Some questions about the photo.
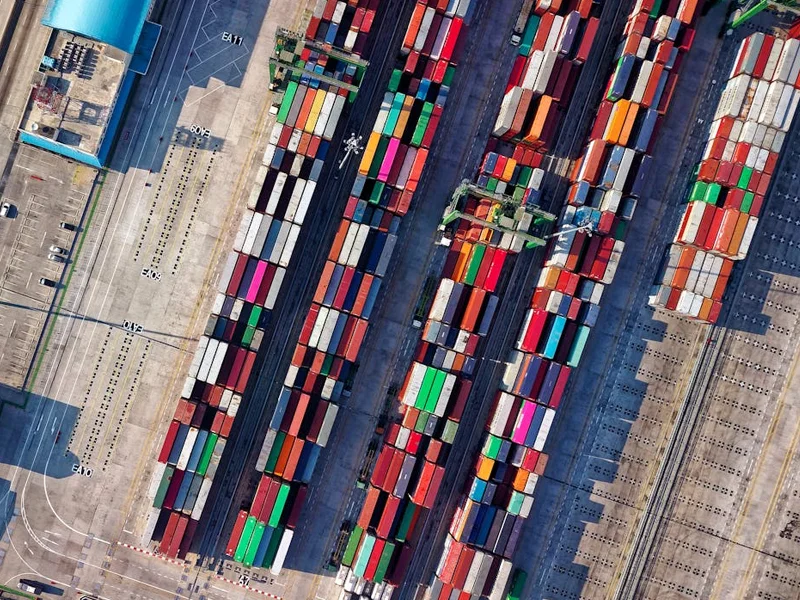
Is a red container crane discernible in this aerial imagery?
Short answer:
No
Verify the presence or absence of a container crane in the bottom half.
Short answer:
No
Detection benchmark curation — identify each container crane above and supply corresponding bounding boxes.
[431,180,561,257]
[265,26,373,119]
[714,0,800,41]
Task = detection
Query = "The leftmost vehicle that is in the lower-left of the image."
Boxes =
[20,580,52,599]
